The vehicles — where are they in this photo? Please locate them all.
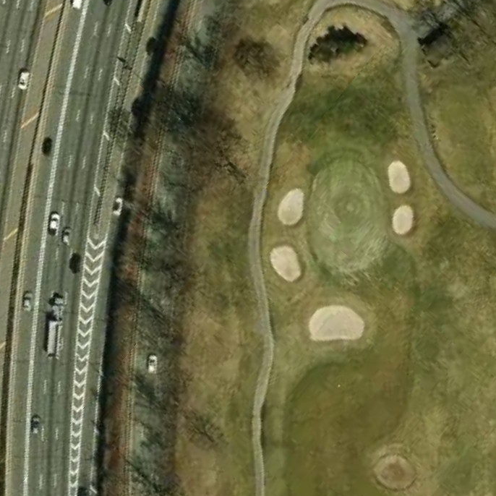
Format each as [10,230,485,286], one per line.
[61,228,70,245]
[72,0,81,7]
[23,291,32,310]
[78,486,86,496]
[47,294,63,359]
[32,415,40,433]
[18,69,28,88]
[132,98,142,118]
[49,214,59,232]
[113,195,122,215]
[42,137,51,155]
[147,354,156,372]
[147,36,157,55]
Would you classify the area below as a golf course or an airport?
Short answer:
golf course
